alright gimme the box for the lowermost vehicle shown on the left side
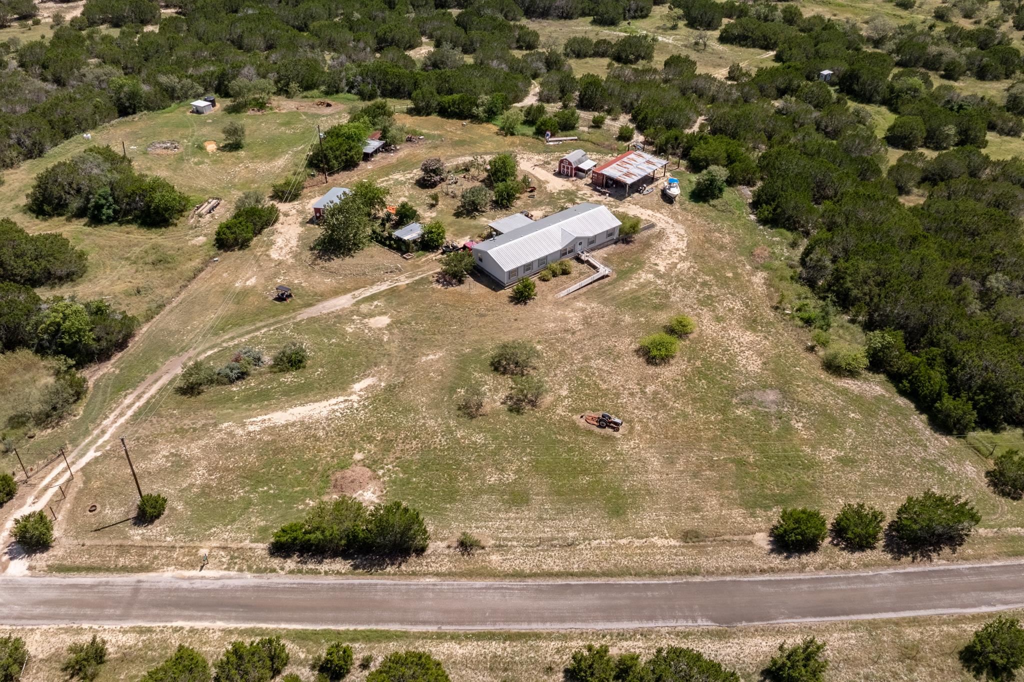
[275,285,294,302]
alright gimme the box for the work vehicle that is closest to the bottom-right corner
[598,410,624,431]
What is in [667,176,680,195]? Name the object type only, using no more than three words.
boat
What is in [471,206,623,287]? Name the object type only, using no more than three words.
house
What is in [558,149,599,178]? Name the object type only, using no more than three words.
barn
